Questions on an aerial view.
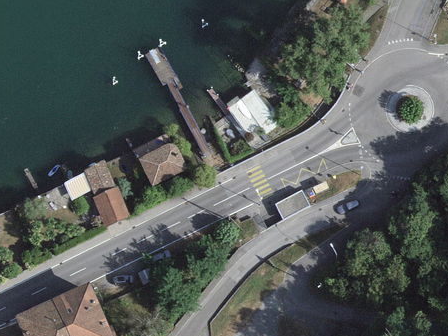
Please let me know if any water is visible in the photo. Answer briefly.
Yes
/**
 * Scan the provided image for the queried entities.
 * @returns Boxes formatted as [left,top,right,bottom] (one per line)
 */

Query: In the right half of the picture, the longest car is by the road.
[336,198,360,214]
